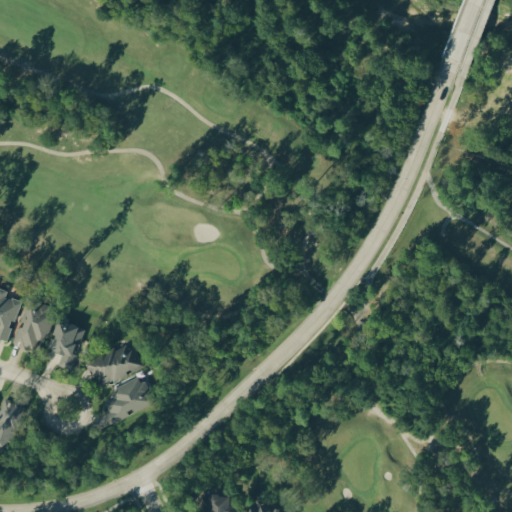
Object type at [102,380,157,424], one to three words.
house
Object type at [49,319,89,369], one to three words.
house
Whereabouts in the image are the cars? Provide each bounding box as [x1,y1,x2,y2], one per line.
[440,86,449,100]
[10,344,20,358]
